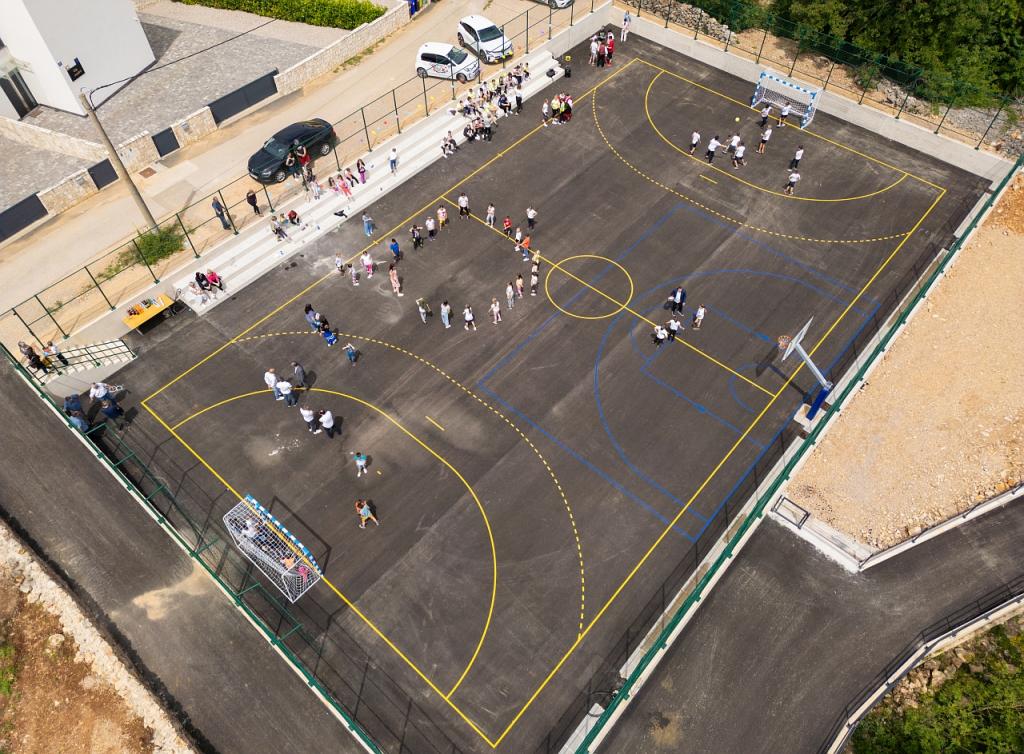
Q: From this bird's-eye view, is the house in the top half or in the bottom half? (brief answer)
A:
top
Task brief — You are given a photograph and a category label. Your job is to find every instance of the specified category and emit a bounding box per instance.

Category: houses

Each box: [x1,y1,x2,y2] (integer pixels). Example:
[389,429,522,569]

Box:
[0,0,154,121]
